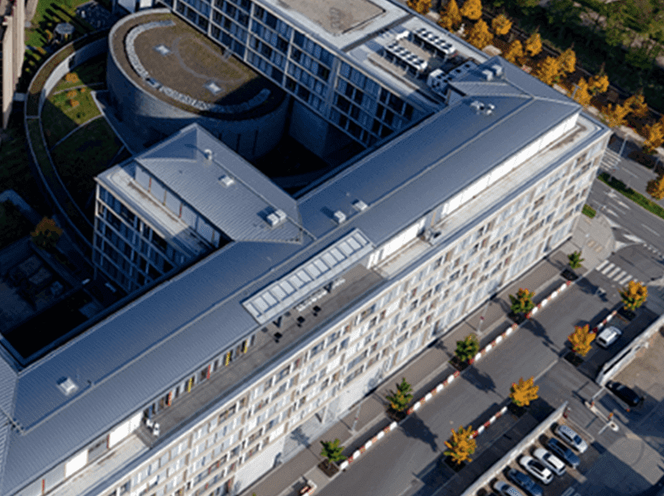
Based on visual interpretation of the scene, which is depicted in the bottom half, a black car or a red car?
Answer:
black car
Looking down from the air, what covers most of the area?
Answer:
buildings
